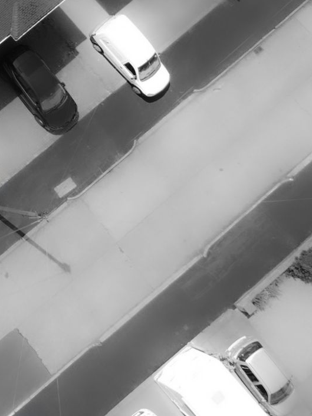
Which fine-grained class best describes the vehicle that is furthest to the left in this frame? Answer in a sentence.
From above, the vehicle that is furthest to the left can be identified as a car.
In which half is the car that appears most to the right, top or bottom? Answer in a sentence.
Seen from above, the car that appears most to the right lies in the bottom half of the view.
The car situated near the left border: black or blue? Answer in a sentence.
In this view, the car situated near the left border is black.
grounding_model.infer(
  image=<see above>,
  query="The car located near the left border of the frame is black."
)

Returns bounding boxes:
[1,41,82,135]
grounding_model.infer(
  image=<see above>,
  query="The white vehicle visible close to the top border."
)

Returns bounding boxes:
[90,10,174,100]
